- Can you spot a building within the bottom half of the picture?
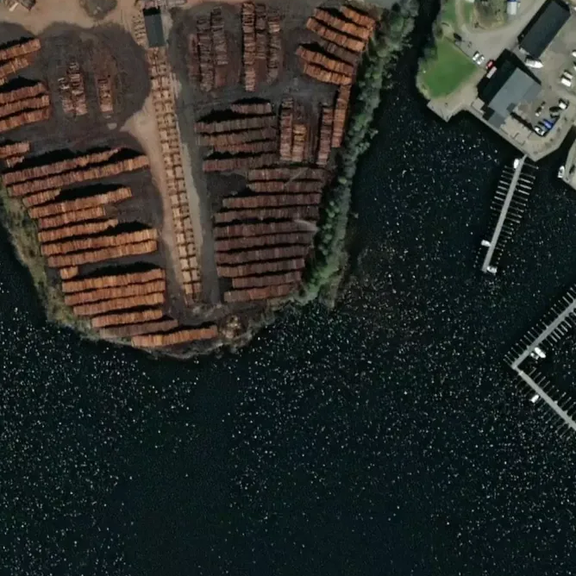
No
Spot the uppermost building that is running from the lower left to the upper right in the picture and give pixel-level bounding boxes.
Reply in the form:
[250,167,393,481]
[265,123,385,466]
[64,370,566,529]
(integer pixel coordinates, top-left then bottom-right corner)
[520,2,571,58]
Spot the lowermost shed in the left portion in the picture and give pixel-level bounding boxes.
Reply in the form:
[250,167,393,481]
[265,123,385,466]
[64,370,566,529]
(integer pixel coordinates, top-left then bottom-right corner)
[143,13,164,47]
